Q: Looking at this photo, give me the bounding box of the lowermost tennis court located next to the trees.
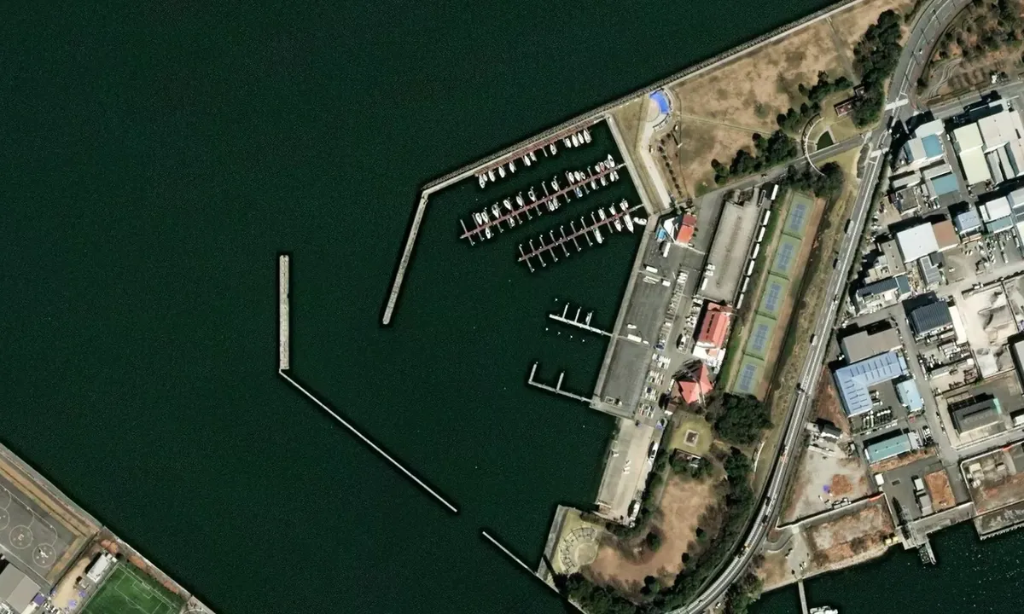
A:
[732,356,763,398]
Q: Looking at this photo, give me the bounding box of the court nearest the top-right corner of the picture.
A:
[783,193,813,239]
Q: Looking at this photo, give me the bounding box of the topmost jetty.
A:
[476,123,595,180]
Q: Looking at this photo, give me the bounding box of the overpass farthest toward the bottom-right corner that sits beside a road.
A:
[675,347,824,614]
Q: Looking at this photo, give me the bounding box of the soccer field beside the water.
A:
[82,560,188,614]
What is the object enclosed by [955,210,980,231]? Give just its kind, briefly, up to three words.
building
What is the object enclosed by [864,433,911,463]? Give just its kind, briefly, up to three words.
building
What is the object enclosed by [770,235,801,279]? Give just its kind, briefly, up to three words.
tennis court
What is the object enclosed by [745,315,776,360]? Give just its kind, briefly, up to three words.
tennis court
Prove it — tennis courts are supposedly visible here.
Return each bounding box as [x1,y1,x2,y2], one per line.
[757,275,789,319]
[732,356,763,398]
[783,193,813,239]
[770,235,801,279]
[745,315,776,360]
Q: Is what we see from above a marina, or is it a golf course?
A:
marina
